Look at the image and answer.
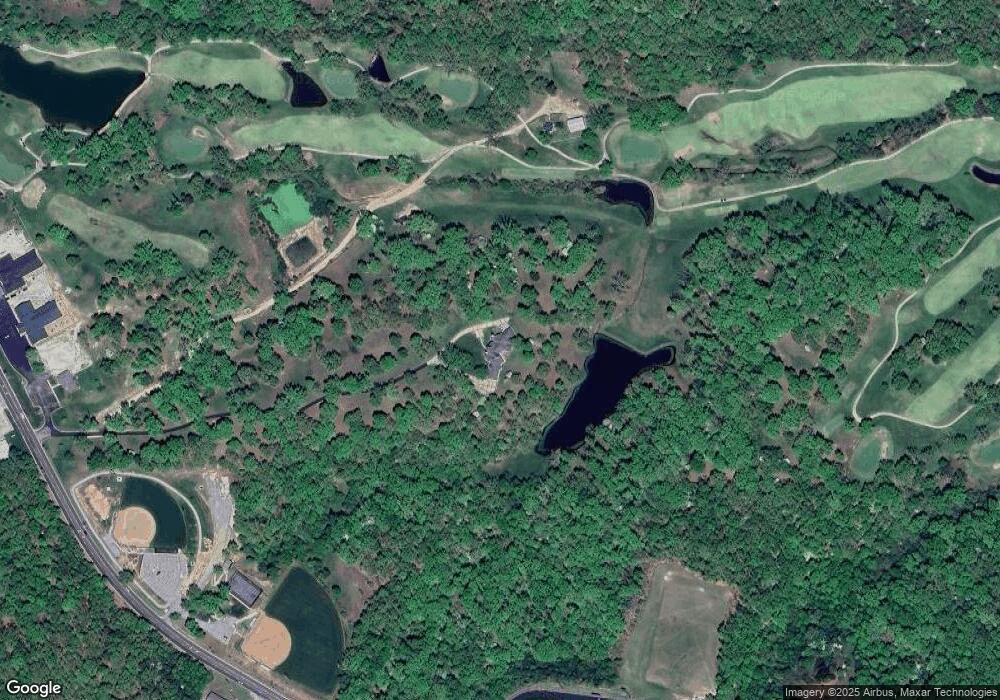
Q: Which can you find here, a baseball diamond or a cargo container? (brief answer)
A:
baseball diamond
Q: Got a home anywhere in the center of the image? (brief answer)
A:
Yes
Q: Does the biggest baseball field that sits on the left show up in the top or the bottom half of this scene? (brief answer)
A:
bottom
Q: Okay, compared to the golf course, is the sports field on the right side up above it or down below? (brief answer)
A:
below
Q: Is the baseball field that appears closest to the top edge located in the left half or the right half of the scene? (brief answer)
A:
left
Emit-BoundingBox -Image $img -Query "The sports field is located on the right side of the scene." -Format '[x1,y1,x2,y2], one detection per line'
[620,559,739,700]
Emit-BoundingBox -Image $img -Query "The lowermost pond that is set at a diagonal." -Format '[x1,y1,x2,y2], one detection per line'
[538,333,676,453]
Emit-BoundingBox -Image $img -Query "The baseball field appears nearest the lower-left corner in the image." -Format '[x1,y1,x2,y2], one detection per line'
[113,475,189,554]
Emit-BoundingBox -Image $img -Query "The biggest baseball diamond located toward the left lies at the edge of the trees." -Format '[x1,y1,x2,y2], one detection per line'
[240,566,347,693]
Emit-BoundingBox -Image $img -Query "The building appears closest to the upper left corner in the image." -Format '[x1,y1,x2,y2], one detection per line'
[0,248,45,296]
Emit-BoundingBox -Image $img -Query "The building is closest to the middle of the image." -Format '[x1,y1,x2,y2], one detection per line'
[484,325,514,377]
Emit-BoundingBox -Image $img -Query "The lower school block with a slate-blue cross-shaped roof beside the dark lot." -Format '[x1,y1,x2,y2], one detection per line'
[13,301,62,345]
